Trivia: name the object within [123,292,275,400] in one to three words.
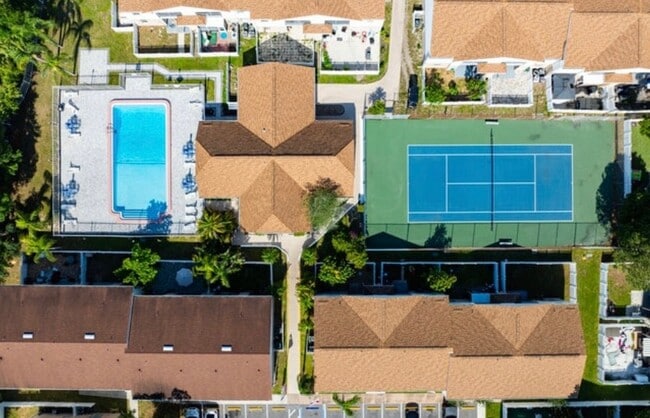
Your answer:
house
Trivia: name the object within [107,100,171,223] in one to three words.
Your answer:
swimming pool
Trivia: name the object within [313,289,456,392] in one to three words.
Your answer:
house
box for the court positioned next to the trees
[364,119,617,249]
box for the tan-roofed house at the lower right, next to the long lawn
[449,296,589,399]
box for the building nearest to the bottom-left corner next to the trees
[0,284,145,390]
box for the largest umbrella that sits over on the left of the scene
[176,265,195,284]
